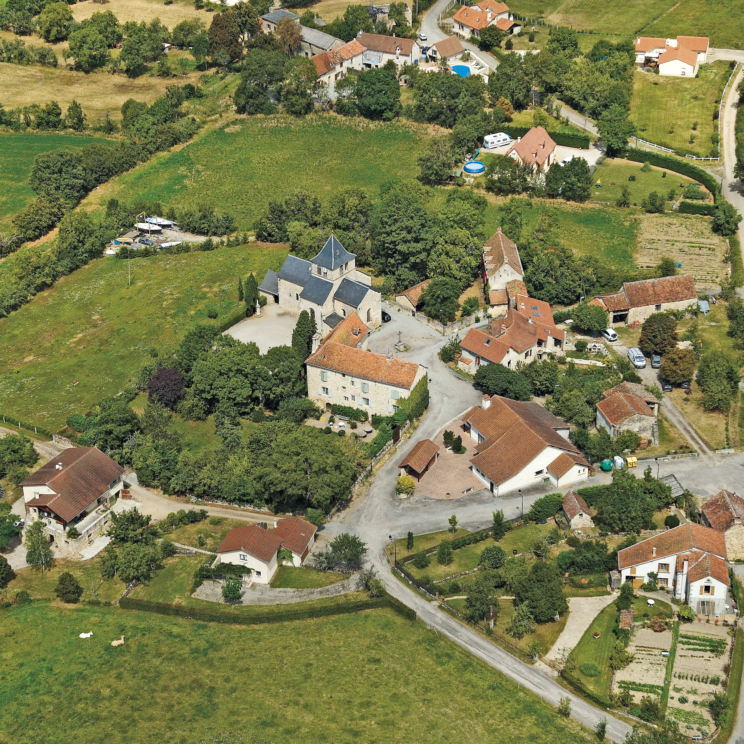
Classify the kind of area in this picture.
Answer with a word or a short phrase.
residential area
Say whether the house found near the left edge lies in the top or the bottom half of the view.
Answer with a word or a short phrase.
bottom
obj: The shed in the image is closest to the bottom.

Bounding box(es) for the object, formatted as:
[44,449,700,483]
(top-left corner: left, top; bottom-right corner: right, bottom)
[616,606,638,628]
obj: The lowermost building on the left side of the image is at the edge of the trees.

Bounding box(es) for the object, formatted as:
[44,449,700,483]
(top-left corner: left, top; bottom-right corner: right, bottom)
[215,514,318,584]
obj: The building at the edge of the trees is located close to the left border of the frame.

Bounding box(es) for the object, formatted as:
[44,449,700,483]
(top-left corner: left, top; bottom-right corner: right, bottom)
[11,445,138,557]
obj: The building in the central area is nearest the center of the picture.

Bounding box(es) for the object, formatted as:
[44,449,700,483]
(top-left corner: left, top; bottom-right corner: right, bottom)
[305,310,428,425]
